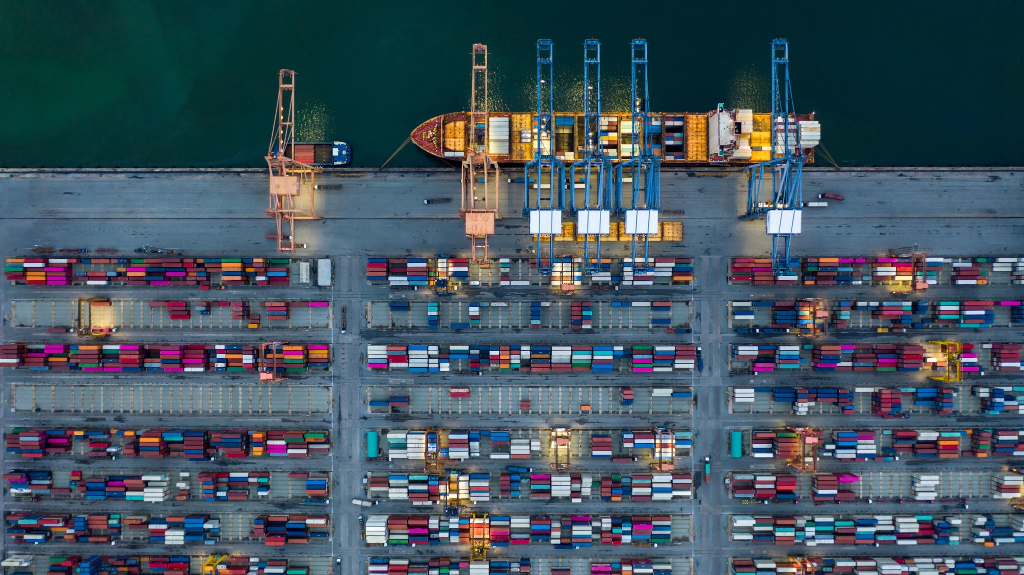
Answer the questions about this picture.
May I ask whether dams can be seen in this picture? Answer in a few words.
No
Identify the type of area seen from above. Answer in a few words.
port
